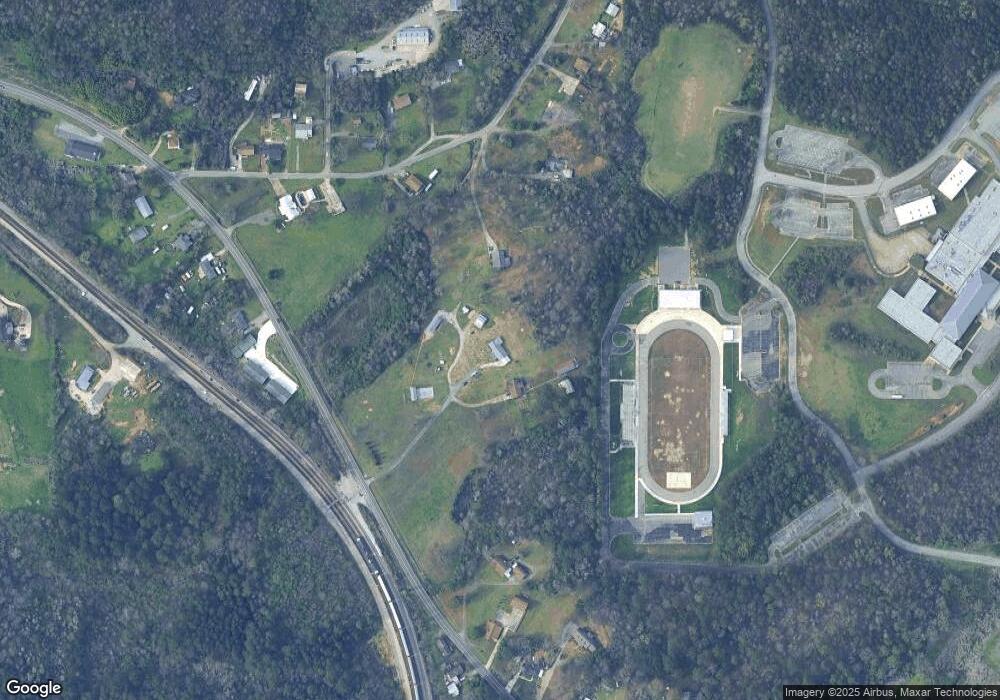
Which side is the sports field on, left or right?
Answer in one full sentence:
The sports field sits on the right side.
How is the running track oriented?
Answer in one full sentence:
From this overhead view, the running track appears to run vertically.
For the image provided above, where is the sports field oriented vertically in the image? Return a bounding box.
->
[648,329,711,491]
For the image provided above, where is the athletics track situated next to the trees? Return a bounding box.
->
[639,319,721,501]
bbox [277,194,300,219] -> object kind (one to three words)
house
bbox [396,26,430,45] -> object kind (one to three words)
building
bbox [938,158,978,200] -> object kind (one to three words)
building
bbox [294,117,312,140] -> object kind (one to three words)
house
